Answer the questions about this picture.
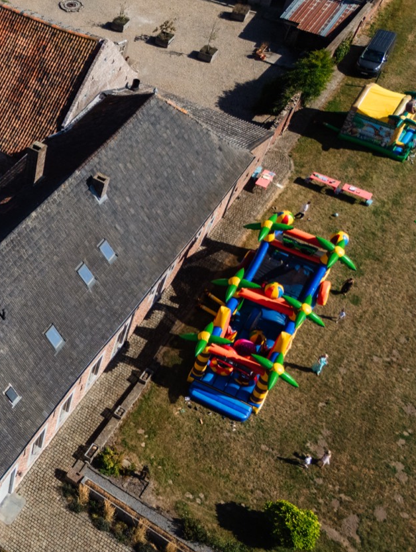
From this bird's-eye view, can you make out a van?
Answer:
Yes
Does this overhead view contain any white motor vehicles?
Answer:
No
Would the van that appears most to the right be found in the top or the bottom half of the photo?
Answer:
top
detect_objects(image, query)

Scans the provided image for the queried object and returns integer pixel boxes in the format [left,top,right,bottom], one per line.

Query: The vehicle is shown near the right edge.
[362,24,406,72]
